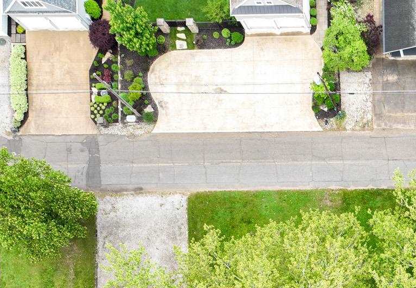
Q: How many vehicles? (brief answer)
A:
none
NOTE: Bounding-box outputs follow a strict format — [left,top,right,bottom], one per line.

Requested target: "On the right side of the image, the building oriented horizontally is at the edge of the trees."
[233,0,310,36]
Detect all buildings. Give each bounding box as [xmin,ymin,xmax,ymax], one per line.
[233,0,310,36]
[3,0,88,32]
[383,0,416,60]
